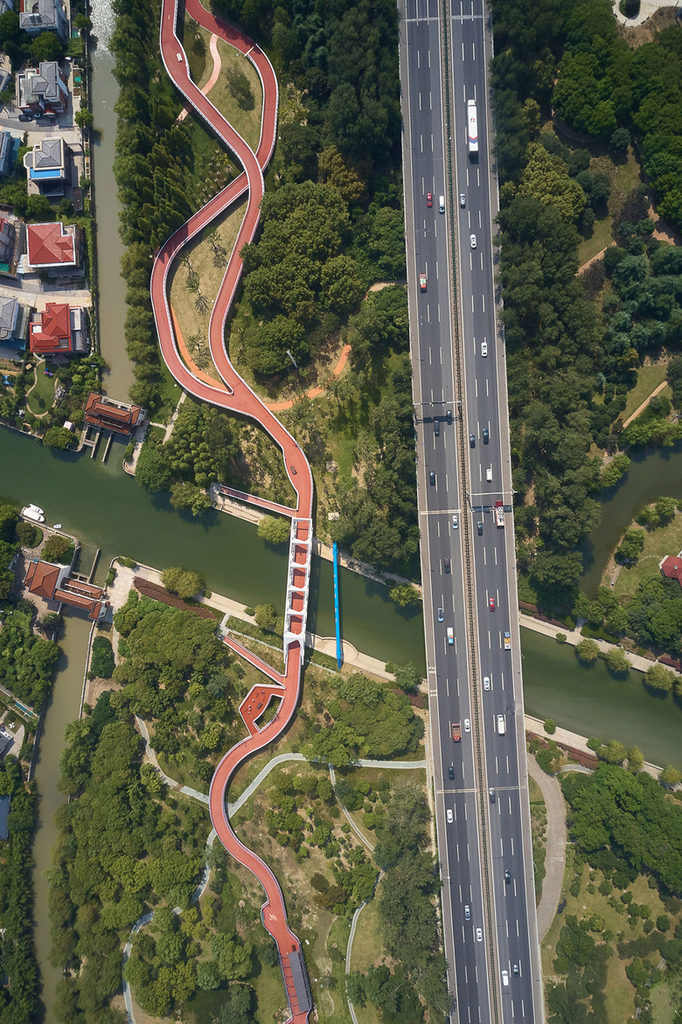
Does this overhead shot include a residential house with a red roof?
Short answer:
Yes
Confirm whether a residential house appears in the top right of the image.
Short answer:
No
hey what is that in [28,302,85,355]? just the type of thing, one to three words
house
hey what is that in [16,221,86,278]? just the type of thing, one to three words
house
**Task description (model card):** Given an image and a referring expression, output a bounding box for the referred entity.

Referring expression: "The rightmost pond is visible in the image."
[581,436,682,601]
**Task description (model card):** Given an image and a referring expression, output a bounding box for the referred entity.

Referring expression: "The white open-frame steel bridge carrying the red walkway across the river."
[283,516,312,663]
